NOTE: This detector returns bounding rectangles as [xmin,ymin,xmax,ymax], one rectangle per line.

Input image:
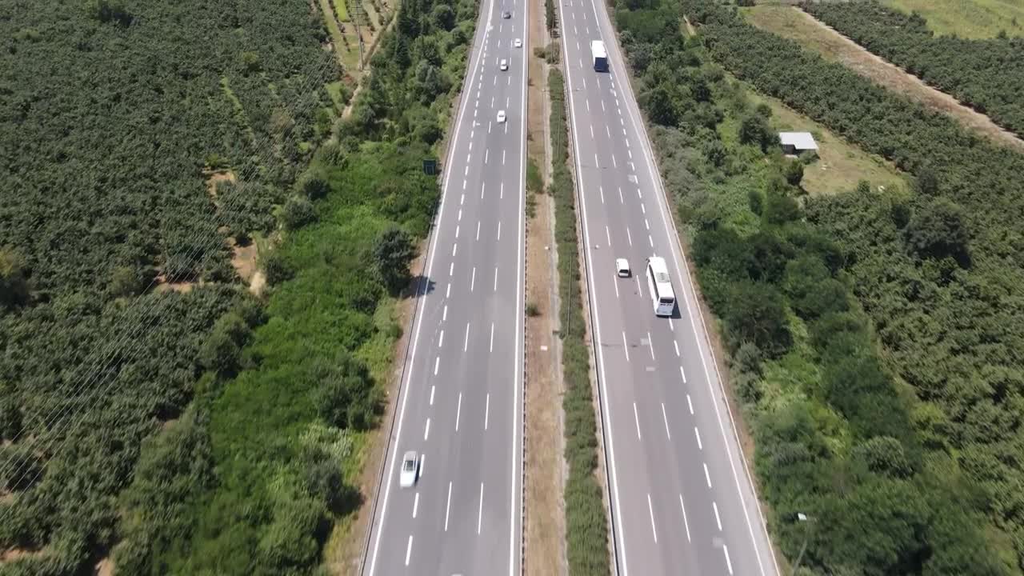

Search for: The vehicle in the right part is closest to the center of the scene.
[617,260,630,276]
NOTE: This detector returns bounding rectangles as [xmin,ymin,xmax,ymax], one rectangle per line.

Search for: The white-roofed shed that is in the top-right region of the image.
[779,129,818,158]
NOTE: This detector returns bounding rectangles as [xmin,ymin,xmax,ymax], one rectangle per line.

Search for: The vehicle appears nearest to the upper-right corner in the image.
[593,43,607,70]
